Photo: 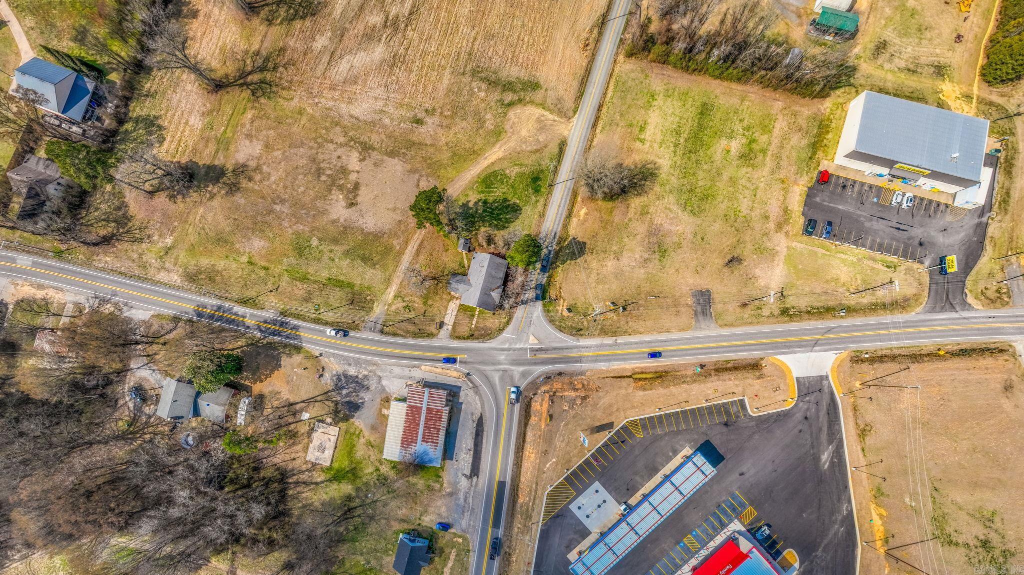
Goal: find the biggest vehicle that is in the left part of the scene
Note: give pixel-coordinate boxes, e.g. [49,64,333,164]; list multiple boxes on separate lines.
[237,393,256,425]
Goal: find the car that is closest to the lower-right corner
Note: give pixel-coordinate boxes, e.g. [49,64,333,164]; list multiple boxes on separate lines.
[755,524,772,539]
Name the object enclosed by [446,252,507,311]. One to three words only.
house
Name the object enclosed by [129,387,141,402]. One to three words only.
vehicle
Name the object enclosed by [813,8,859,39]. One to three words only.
shed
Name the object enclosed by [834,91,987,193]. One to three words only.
building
